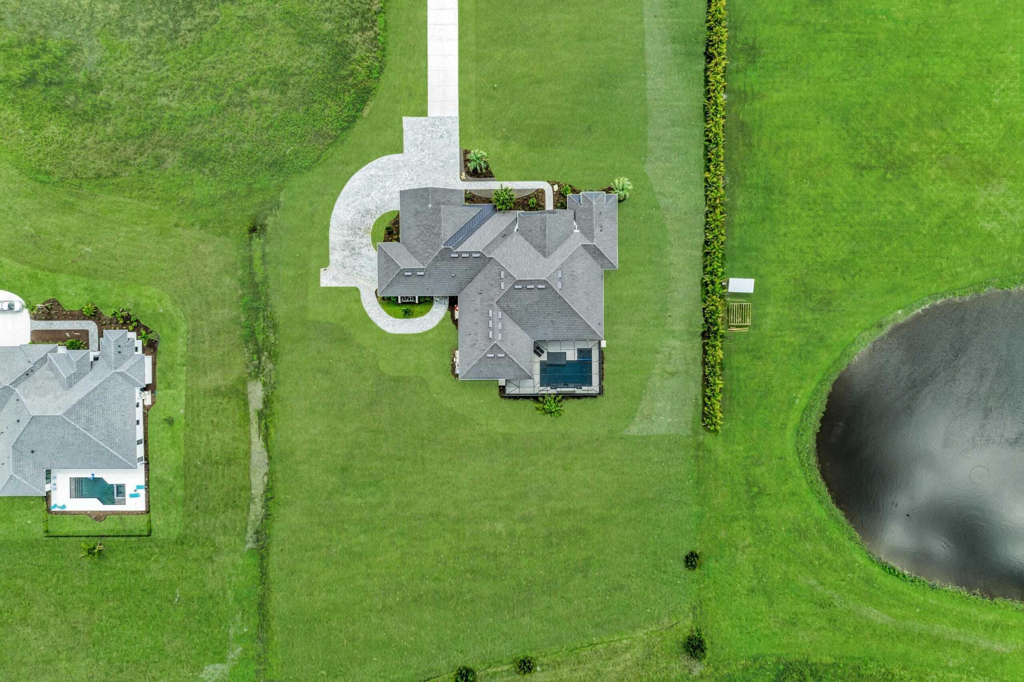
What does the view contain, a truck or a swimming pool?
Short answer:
swimming pool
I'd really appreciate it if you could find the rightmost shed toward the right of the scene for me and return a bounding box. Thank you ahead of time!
[726,278,754,293]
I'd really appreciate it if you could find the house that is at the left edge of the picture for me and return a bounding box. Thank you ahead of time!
[0,330,152,496]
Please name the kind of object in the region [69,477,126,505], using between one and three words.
swimming pool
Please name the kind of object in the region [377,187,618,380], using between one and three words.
house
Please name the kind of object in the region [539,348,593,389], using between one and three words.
swimming pool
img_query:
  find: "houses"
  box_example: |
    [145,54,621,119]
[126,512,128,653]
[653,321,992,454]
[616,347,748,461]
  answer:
[377,187,618,380]
[0,330,152,496]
